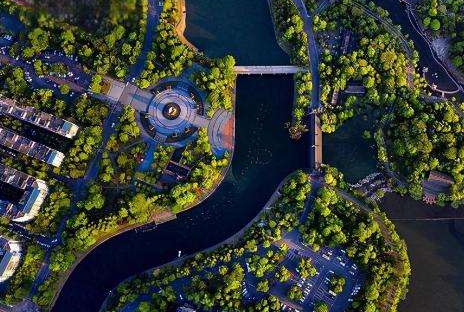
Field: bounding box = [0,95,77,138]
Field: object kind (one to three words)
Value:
building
